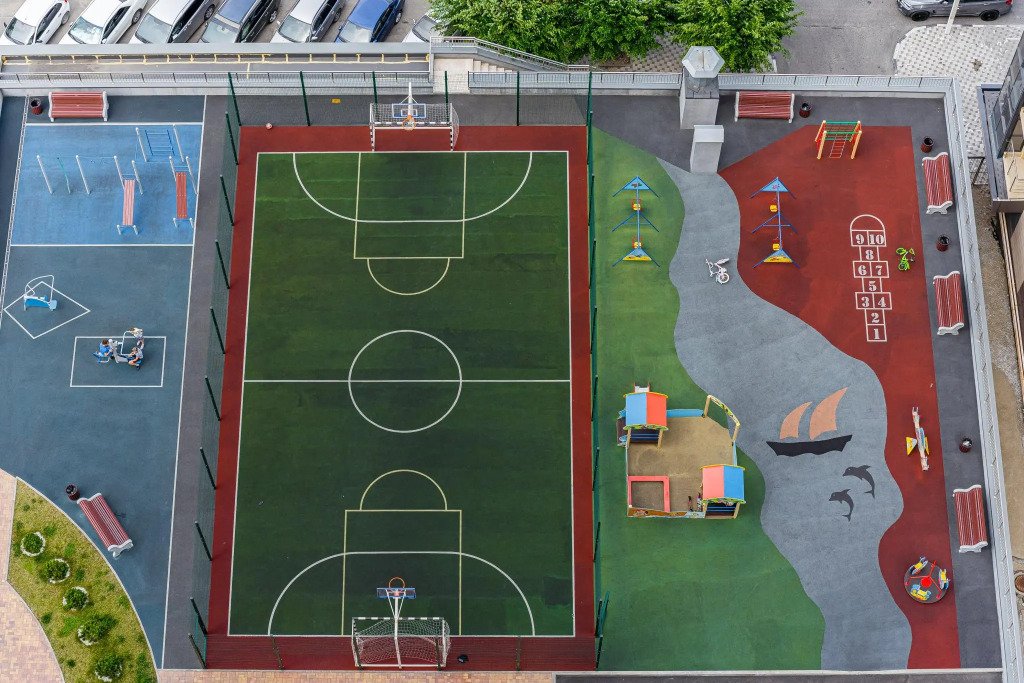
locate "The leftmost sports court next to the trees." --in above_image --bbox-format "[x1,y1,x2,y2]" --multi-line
[205,125,597,670]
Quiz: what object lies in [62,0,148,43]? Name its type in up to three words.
car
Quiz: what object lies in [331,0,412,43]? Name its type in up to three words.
car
